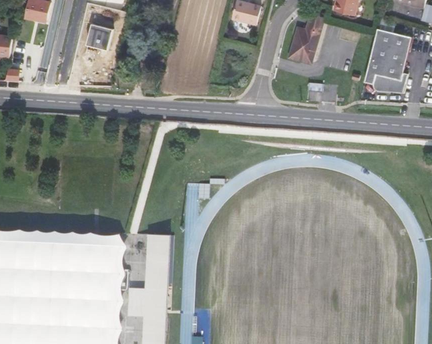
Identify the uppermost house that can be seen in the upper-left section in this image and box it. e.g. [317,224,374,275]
[24,0,52,24]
